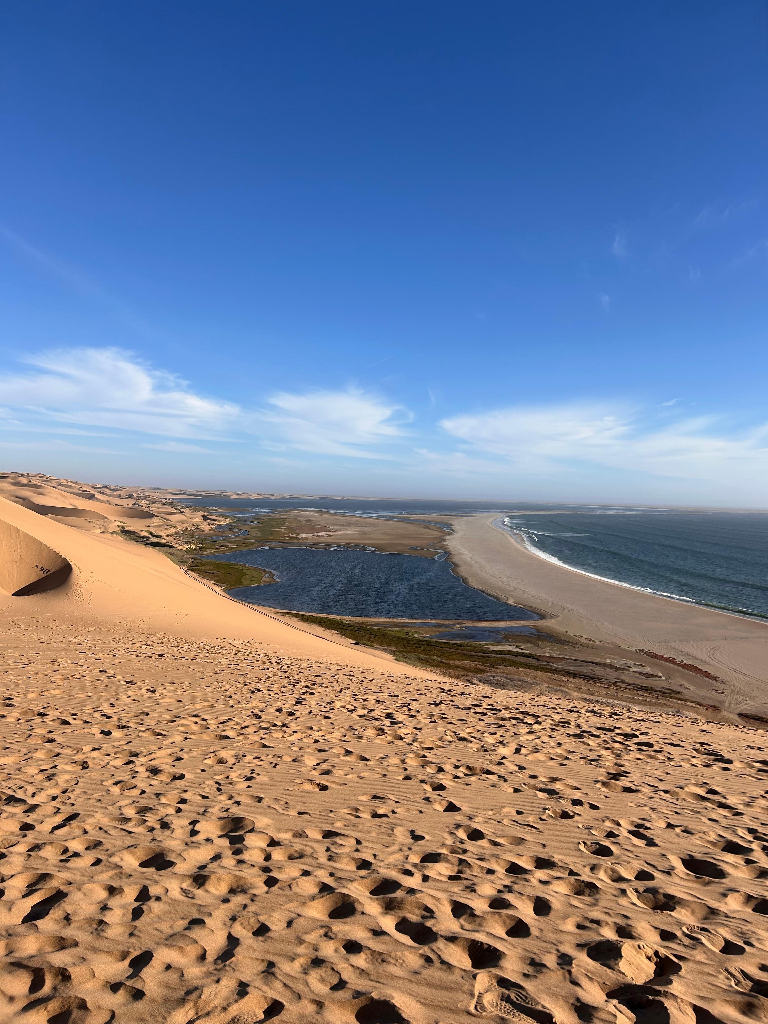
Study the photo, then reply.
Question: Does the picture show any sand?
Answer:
Yes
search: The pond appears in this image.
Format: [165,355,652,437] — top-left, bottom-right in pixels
[209,543,541,621]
